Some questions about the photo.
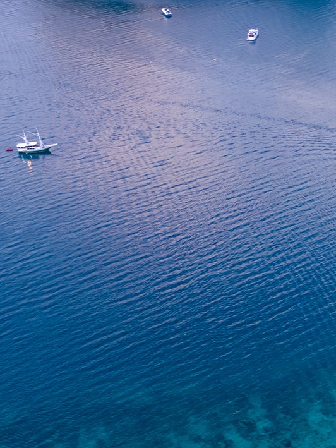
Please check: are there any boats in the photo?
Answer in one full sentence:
Yes, you can see a boat in this photo.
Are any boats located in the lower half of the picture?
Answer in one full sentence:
No, no boat is visible in the lower half of the picture.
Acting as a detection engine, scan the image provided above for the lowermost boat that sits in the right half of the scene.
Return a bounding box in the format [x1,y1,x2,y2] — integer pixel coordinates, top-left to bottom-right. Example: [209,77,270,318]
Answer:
[244,25,259,41]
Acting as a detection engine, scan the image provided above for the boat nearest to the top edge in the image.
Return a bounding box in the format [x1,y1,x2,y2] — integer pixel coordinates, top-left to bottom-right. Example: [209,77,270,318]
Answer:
[161,5,176,18]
